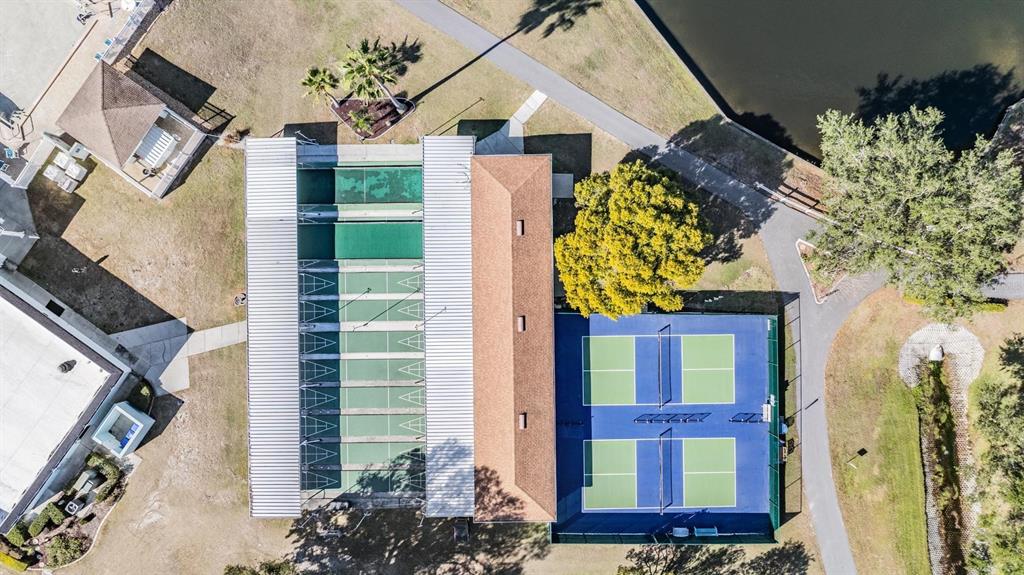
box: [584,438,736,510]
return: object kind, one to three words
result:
sports court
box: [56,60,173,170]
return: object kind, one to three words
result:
building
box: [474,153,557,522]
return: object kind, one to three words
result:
building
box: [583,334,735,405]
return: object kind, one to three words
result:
sports court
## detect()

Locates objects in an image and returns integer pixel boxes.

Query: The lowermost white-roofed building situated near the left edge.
[0,273,135,535]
